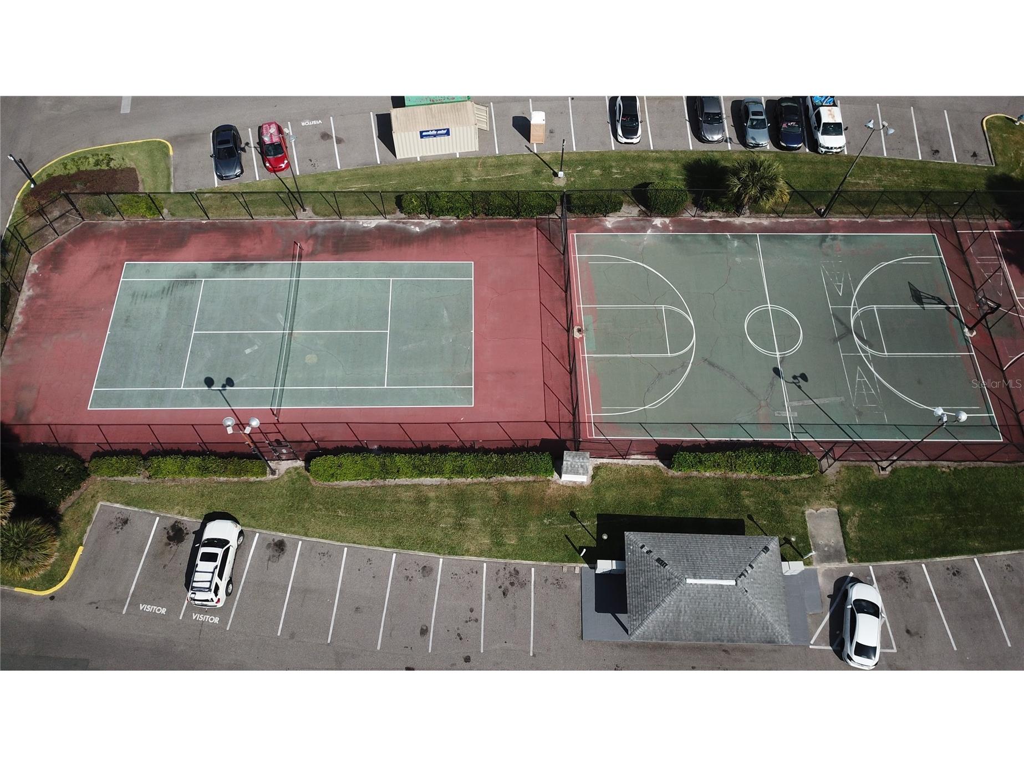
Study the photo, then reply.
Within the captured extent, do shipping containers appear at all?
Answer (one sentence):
Yes, there's a shipping container here.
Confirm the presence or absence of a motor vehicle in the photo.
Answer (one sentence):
Yes, there's a motor vehicle down there.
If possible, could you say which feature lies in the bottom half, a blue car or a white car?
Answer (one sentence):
Visible in the bottom half is a white car.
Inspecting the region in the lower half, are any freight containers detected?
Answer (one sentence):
No, no freight container can be made out in the lower half.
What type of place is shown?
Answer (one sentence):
This looks like a sports ground.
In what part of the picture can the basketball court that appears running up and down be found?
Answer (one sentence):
The basketball court that appears running up and down is located in the right region of the scene.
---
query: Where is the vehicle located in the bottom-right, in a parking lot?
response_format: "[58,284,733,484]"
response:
[839,580,885,670]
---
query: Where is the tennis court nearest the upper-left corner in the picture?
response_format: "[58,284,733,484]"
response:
[0,218,574,466]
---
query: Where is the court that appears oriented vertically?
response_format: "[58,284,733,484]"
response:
[953,220,1024,428]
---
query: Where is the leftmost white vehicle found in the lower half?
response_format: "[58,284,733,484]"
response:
[188,518,247,607]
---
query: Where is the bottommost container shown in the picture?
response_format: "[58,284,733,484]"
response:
[390,101,488,159]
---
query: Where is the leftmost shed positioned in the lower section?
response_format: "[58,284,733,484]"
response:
[557,451,589,483]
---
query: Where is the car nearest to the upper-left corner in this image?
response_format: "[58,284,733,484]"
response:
[211,125,245,180]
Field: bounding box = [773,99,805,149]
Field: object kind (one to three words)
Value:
car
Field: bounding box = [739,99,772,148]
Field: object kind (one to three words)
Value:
car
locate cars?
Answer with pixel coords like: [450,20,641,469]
[188,518,247,607]
[615,93,645,143]
[773,99,805,149]
[211,125,245,180]
[739,99,772,148]
[259,126,290,172]
[839,580,885,670]
[693,90,727,141]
